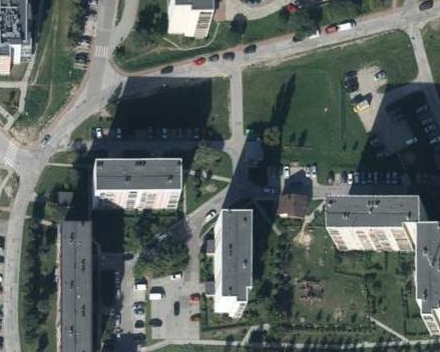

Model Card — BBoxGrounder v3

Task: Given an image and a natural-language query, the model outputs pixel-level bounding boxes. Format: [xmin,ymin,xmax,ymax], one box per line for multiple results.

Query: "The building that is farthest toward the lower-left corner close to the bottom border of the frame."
[57,221,94,352]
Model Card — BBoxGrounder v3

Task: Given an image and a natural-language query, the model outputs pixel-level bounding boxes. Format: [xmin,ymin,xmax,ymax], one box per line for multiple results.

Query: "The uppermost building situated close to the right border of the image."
[325,196,420,250]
